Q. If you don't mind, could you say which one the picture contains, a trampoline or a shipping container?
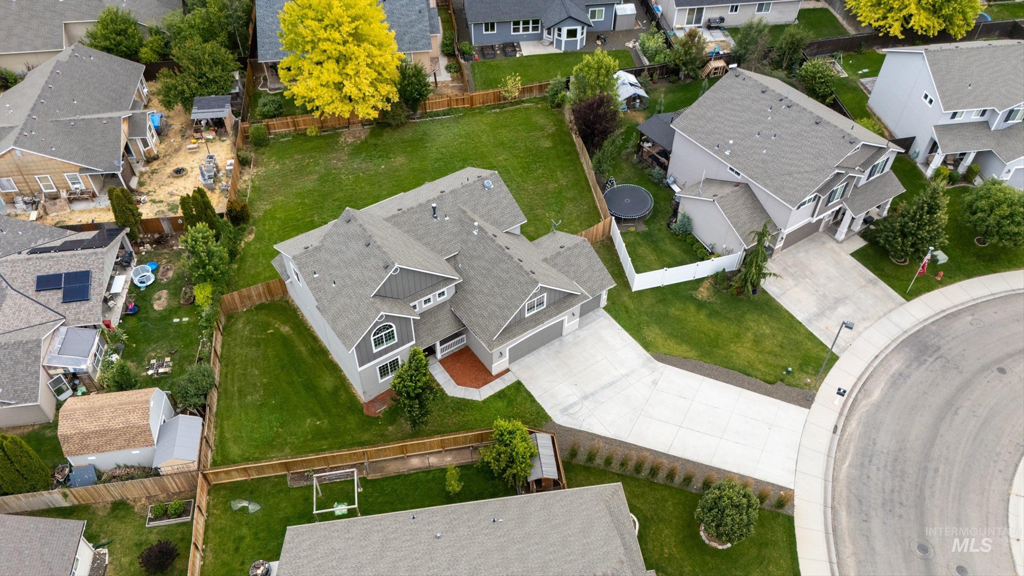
trampoline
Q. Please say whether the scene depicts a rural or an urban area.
urban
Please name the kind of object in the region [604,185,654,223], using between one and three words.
trampoline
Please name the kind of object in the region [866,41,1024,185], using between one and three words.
house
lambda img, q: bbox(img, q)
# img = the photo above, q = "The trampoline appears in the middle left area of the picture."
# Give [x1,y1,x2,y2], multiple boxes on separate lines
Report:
[127,264,157,291]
